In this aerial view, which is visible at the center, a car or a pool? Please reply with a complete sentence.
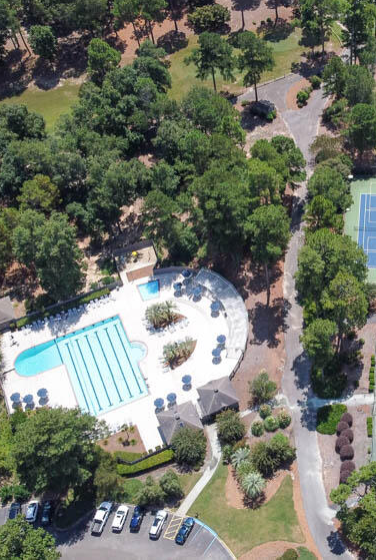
There is a pool at the center.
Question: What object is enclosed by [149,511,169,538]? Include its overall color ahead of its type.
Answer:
white car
